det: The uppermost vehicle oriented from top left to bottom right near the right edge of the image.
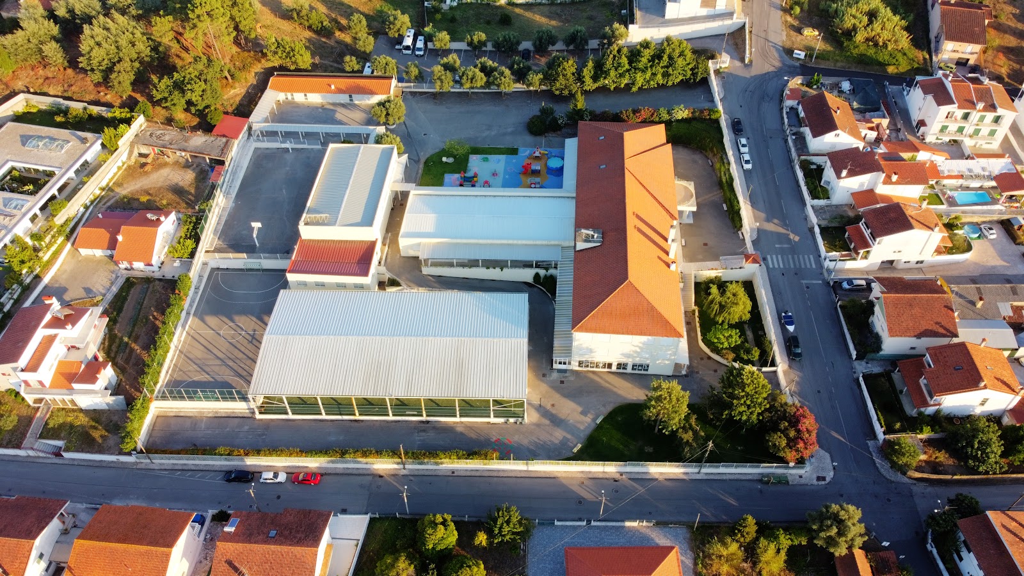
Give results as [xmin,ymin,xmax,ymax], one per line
[978,223,1000,240]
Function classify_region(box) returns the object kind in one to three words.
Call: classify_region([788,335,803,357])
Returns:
car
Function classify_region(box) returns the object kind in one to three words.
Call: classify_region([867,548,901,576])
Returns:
shed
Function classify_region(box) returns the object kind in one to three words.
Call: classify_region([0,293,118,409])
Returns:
house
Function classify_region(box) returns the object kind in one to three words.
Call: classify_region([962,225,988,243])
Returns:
swimming pool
